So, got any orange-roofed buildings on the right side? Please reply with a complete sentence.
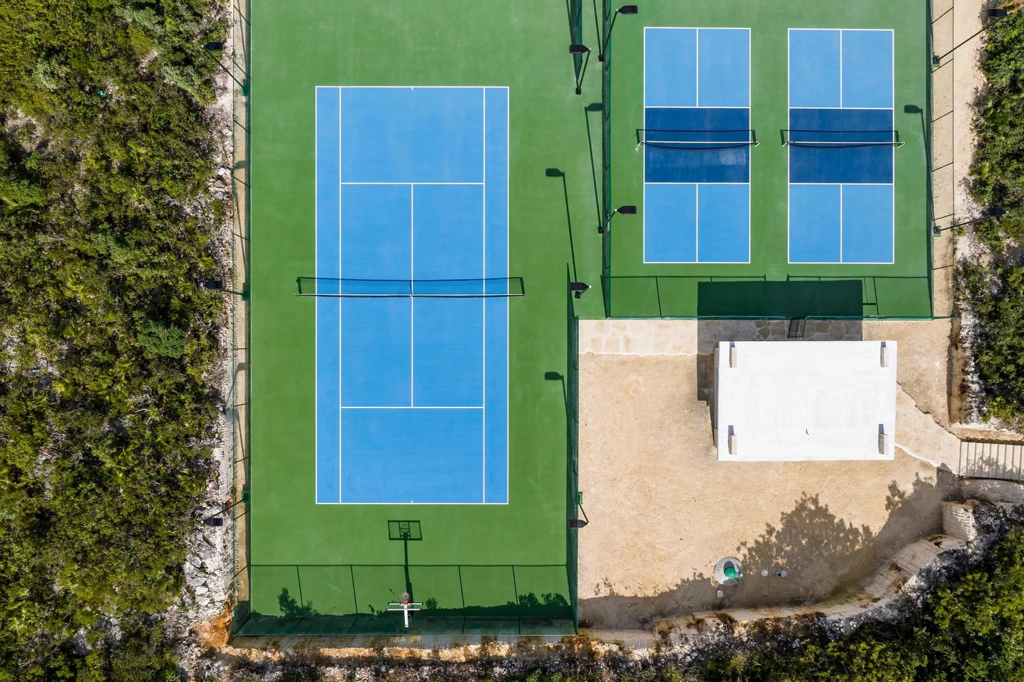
No, there's no orange-roofed building to be seen on the right side.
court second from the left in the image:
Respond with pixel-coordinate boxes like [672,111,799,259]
[644,27,751,263]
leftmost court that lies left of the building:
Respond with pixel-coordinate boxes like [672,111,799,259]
[251,0,606,627]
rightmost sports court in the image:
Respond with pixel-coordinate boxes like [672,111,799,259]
[788,28,894,264]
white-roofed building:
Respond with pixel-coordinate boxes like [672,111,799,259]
[716,341,897,461]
